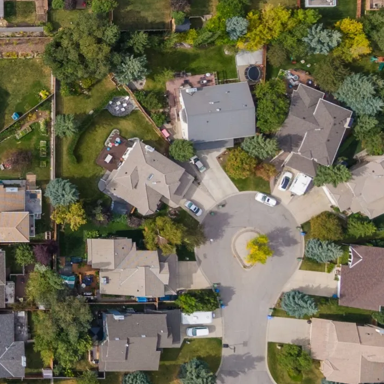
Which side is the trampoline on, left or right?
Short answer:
right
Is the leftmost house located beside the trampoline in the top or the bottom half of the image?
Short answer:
top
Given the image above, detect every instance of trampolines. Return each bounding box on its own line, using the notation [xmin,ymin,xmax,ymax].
[242,62,264,82]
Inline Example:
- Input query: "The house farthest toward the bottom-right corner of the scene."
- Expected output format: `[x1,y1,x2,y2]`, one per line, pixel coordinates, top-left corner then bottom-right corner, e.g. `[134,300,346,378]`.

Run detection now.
[302,320,384,383]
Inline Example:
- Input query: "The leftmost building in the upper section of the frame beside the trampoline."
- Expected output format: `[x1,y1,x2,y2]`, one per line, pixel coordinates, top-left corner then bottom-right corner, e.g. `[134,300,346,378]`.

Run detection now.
[172,81,258,152]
